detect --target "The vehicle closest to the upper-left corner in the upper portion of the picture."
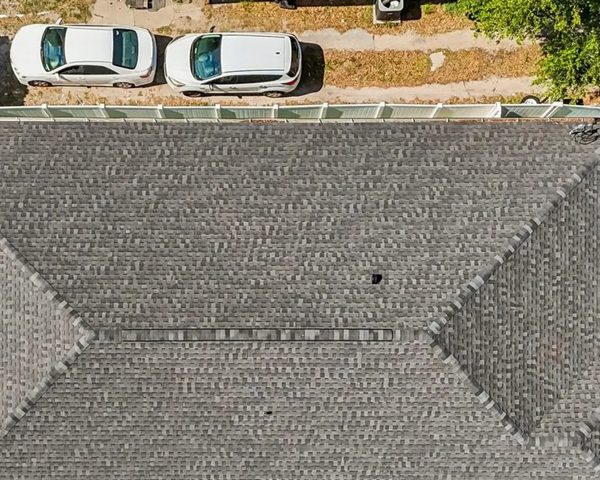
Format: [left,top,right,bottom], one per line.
[13,21,156,88]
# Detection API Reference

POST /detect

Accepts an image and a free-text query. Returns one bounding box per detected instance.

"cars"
[166,27,303,96]
[13,21,156,88]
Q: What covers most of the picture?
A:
buildings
